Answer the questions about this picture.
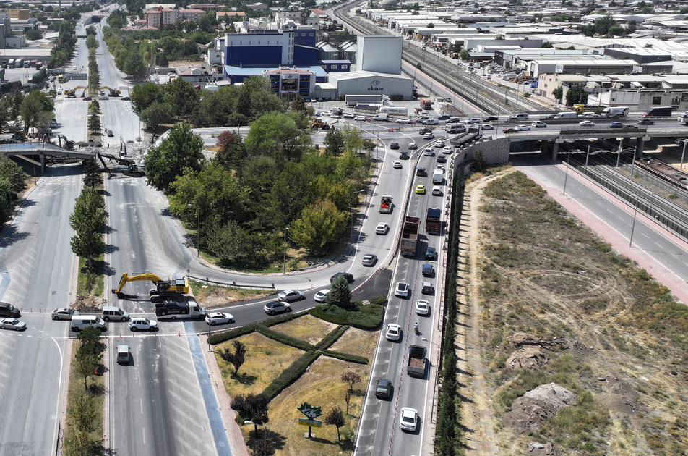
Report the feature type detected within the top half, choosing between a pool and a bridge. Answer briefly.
bridge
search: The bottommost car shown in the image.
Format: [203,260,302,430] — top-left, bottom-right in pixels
[399,407,420,433]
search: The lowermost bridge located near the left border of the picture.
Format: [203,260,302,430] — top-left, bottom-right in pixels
[0,140,92,174]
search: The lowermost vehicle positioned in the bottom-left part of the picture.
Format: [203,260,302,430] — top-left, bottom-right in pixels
[114,345,132,365]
